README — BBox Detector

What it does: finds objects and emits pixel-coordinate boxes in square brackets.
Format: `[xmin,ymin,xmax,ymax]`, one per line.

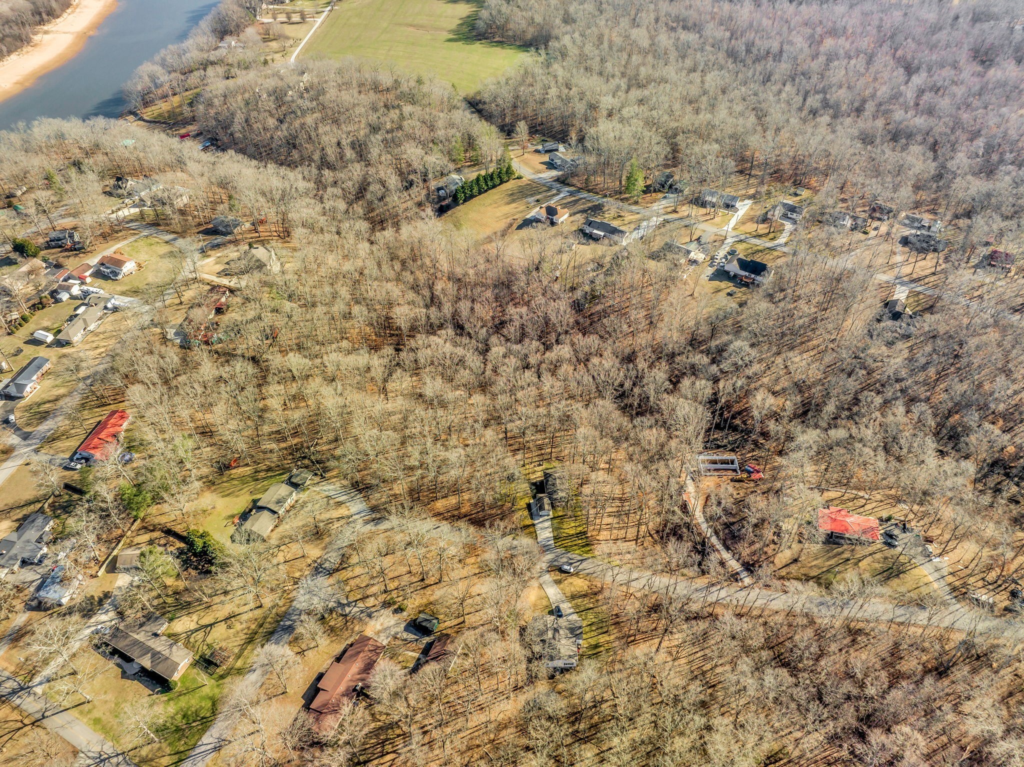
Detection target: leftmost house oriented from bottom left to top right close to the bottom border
[299,635,385,745]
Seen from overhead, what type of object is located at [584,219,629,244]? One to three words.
house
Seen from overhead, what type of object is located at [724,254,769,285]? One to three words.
house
